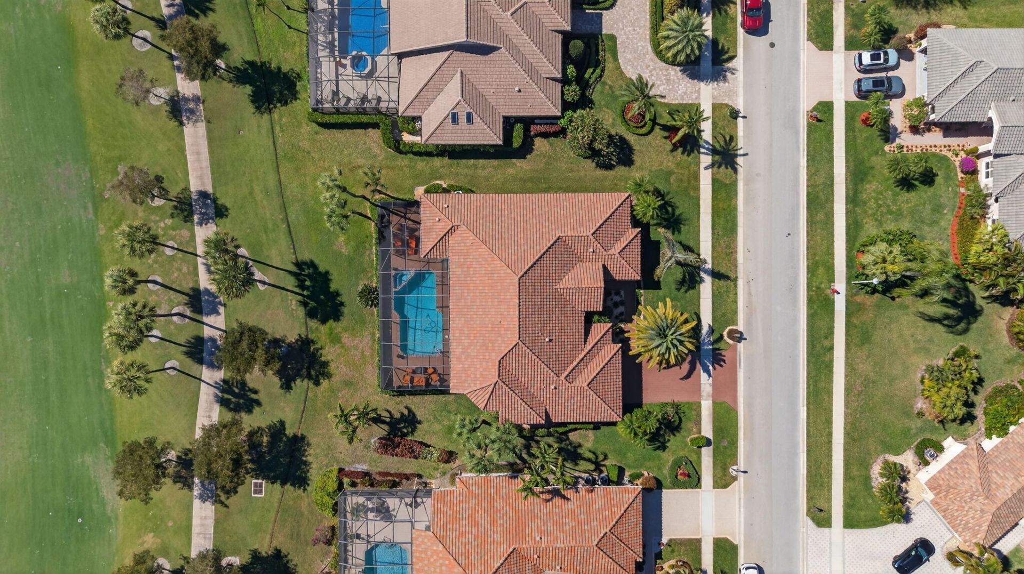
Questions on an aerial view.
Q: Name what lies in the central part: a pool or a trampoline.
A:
pool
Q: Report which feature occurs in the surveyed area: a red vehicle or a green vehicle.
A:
red vehicle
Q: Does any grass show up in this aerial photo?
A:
Yes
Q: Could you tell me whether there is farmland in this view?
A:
No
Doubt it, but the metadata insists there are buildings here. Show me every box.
[419,192,643,424]
[914,27,1024,249]
[413,474,642,574]
[389,0,572,146]
[915,408,1024,556]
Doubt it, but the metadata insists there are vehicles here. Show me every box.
[849,47,897,72]
[851,74,898,98]
[737,560,758,574]
[741,0,767,32]
[889,536,932,574]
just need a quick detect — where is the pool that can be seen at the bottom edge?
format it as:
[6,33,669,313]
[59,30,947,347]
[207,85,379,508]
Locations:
[363,543,409,574]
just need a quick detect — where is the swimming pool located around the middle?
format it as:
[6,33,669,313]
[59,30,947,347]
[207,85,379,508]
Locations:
[392,269,444,357]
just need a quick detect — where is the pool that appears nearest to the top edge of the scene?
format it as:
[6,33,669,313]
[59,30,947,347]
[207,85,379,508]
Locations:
[335,0,390,56]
